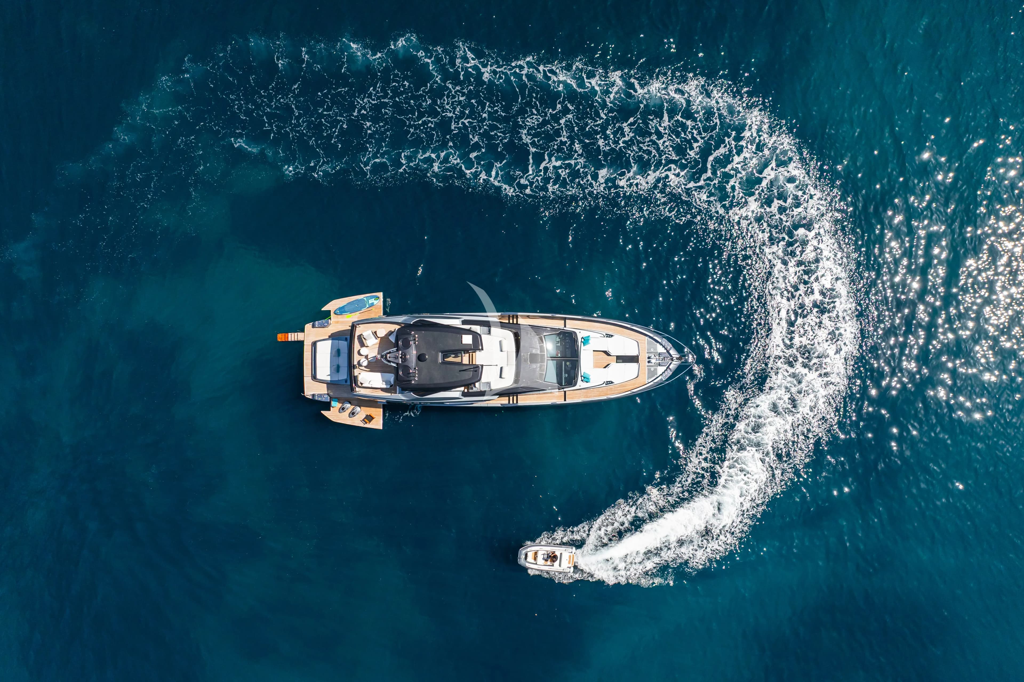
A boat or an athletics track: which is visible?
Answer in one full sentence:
The one in the frame is a boat.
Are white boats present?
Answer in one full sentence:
Yes, looking at the shot, I can spot a white boat.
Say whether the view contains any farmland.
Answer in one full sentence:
No, farmland can't be seen anywhere here.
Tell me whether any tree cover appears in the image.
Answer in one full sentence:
No, the scene doesn't show any tree cover.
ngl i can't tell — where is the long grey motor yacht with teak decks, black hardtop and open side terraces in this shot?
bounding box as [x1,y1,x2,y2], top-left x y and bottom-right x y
[277,292,696,429]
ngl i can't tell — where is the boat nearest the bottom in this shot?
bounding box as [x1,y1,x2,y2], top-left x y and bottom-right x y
[518,545,576,574]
